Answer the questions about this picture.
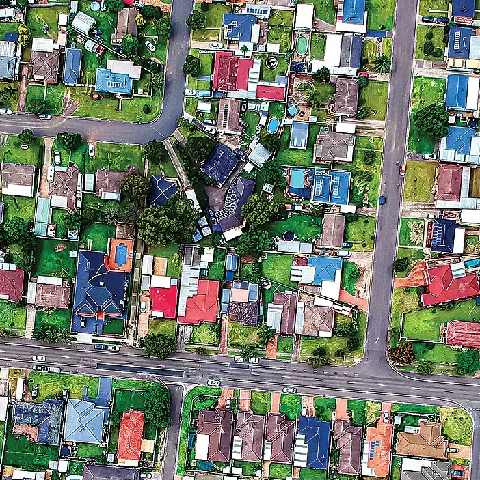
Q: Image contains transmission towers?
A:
No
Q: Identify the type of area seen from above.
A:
residential area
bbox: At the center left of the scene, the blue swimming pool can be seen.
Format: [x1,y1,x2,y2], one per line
[112,243,128,267]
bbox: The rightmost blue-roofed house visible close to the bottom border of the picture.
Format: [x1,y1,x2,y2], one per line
[294,416,331,473]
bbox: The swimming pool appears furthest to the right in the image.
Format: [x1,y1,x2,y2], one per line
[463,257,480,269]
